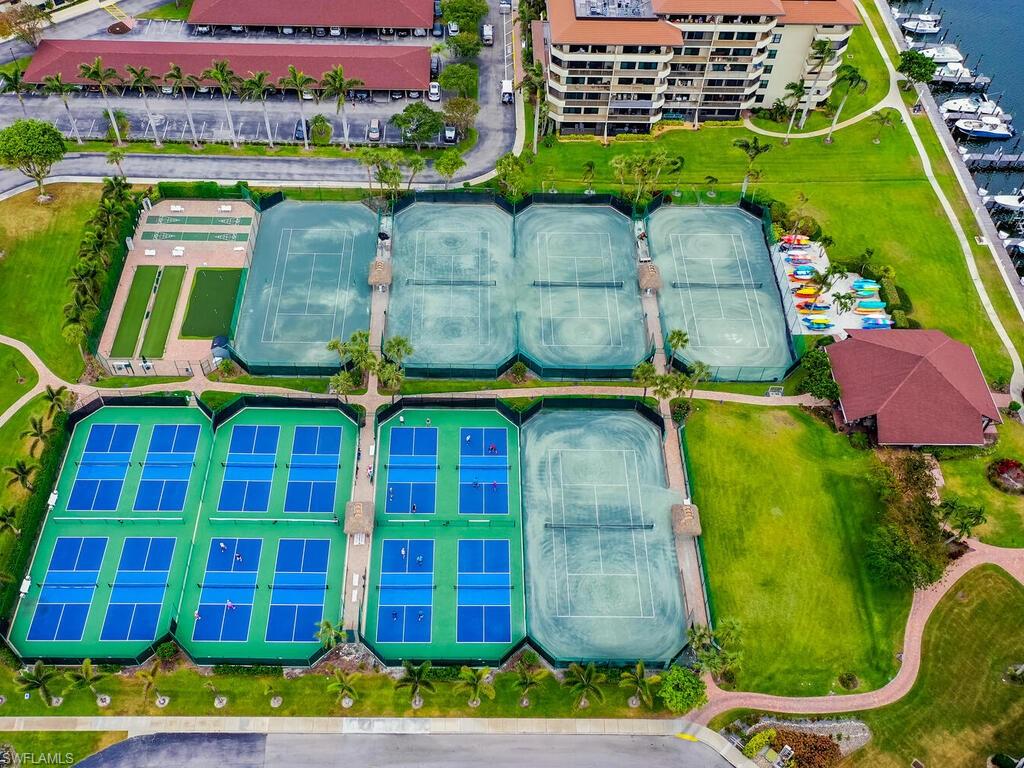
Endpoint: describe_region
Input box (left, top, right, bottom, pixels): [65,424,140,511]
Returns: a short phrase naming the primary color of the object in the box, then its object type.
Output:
blue sports court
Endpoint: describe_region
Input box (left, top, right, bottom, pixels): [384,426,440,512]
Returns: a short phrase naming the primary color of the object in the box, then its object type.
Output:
blue sports court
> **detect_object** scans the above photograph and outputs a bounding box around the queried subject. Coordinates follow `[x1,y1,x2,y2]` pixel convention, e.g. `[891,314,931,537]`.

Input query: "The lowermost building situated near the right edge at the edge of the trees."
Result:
[824,328,1004,449]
